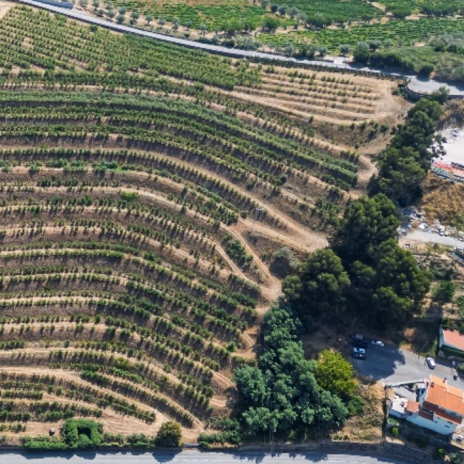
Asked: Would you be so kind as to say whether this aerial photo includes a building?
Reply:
Yes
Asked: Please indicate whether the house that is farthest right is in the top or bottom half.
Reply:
bottom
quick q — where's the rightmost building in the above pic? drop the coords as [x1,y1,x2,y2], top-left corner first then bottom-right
[435,332,464,366]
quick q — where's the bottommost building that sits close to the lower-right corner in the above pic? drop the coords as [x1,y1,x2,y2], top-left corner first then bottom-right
[368,374,463,439]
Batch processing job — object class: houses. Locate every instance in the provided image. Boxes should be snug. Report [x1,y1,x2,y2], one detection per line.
[368,374,463,439]
[435,332,464,366]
